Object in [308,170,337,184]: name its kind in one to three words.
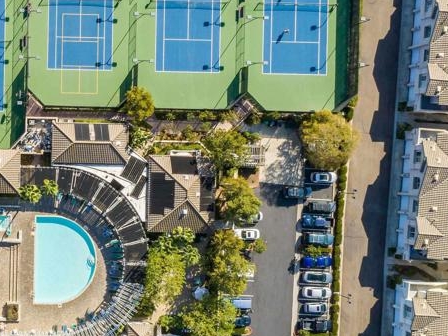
car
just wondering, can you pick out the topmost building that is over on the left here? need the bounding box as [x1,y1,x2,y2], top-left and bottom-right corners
[51,121,129,165]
